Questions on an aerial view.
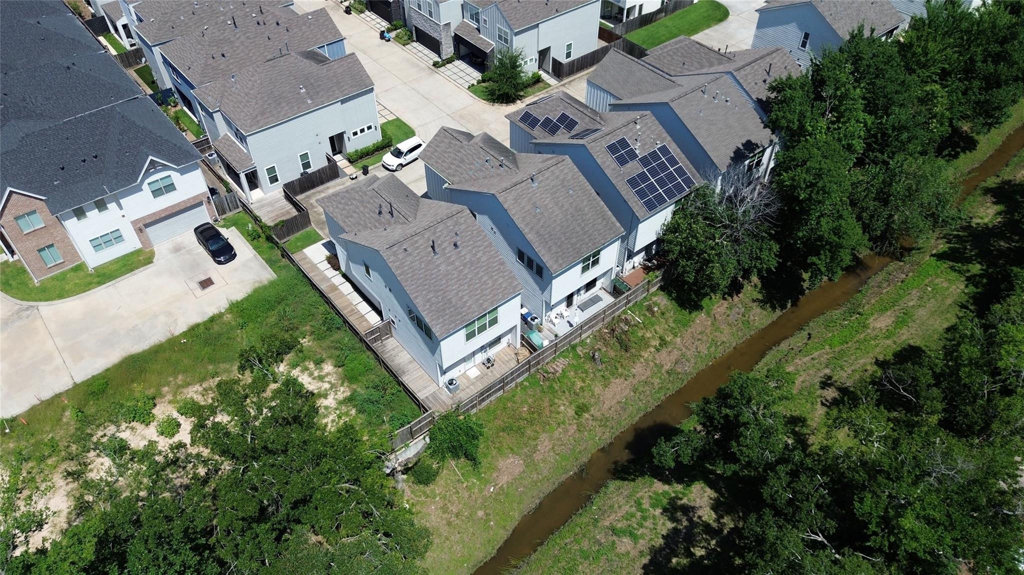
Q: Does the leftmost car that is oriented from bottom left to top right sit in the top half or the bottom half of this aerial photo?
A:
top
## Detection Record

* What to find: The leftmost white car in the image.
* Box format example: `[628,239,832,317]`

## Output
[381,134,429,171]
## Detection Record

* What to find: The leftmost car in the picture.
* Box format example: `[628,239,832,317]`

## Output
[191,221,235,265]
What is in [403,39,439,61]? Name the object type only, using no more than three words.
house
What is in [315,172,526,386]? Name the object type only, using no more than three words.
house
